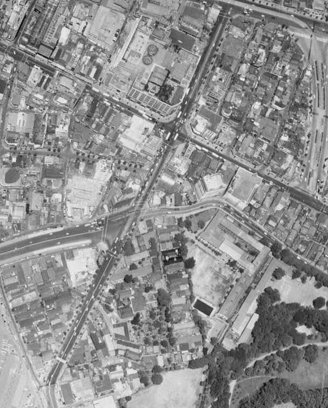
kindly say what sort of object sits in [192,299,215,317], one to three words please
swimming pool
